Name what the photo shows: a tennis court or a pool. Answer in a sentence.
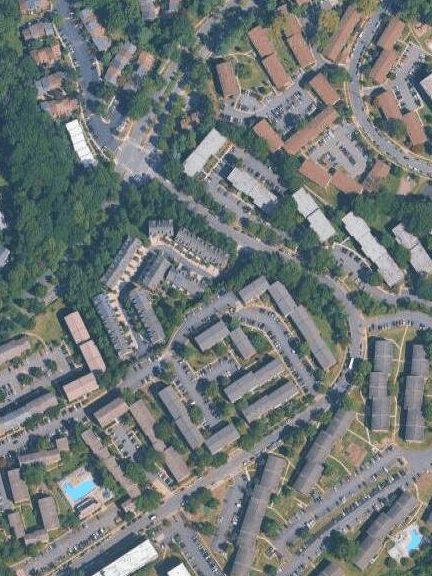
Looking from above, you can make out a pool.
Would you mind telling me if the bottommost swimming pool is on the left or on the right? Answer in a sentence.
It is on the right.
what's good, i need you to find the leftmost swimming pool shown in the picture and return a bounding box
[57,470,105,515]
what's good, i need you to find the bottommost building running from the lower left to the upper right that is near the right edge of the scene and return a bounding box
[349,492,412,568]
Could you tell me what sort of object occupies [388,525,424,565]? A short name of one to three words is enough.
swimming pool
